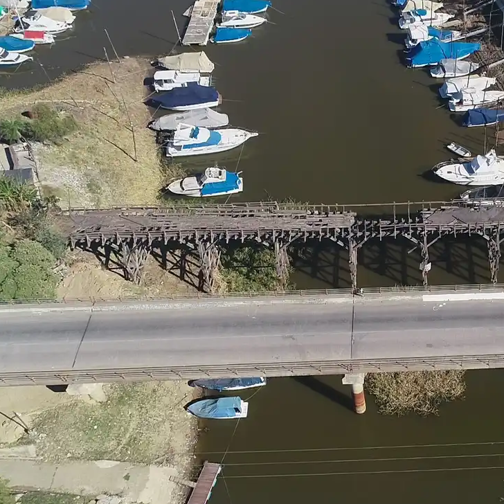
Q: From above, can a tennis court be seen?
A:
No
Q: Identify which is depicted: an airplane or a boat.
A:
boat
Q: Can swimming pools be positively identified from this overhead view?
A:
No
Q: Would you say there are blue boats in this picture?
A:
Yes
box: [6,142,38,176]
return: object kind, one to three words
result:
shed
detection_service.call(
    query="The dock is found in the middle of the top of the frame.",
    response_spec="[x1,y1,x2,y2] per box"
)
[186,0,218,47]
